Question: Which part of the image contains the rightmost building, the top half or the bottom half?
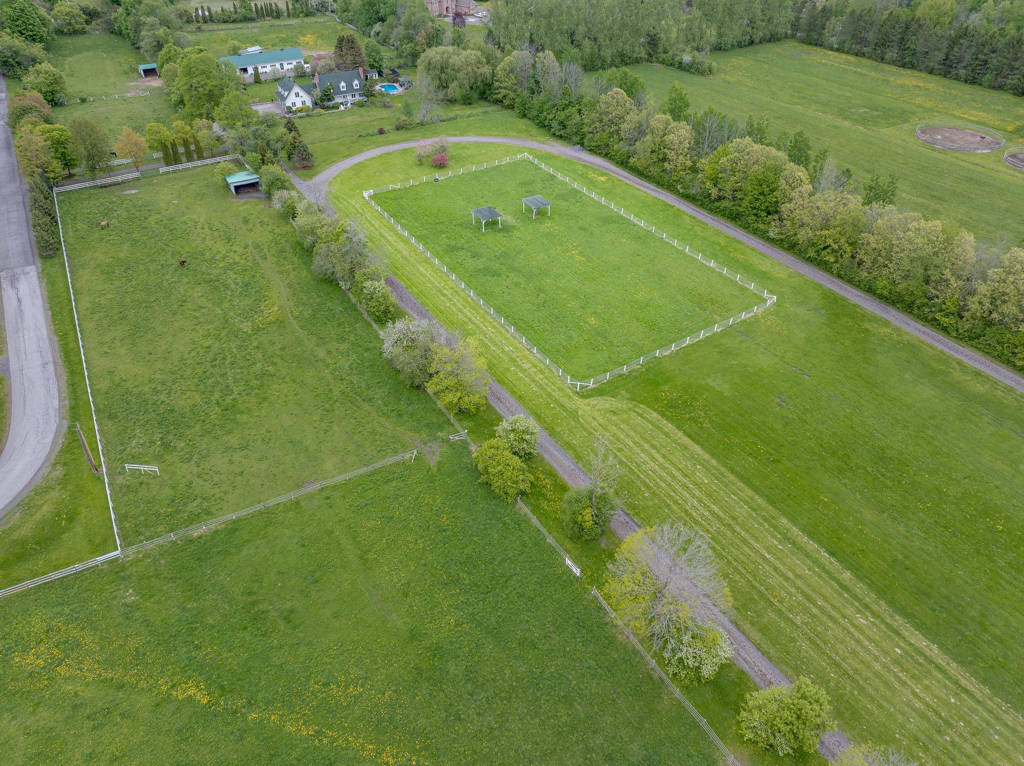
top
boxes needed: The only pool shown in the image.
[374,82,413,95]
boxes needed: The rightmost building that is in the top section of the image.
[522,193,552,219]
